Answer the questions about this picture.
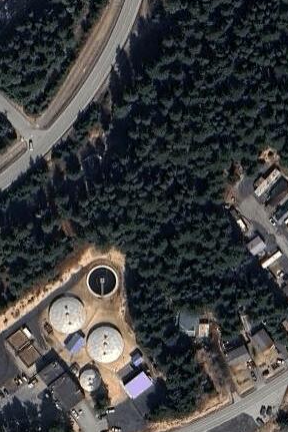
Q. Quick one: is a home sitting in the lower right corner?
Yes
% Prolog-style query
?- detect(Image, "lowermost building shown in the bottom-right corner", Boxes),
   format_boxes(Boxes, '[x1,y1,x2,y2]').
[226,346,252,371]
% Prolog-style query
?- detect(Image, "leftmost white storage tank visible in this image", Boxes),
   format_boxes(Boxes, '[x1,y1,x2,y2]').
[49,295,88,334]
